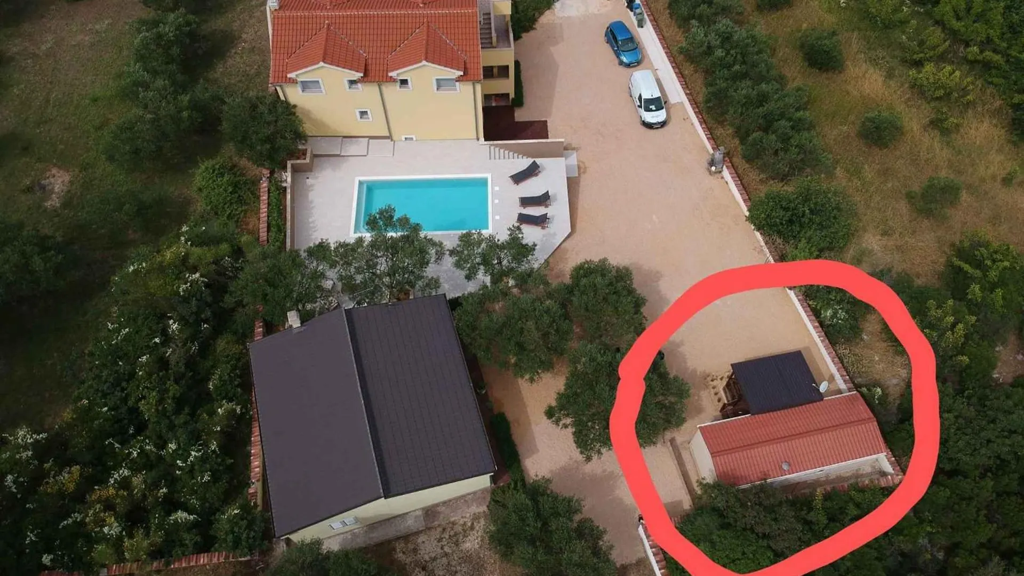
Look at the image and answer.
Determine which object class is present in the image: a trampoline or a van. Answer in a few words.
van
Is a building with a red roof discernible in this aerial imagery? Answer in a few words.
Yes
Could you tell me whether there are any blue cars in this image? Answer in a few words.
Yes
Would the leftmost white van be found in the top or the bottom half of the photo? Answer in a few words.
top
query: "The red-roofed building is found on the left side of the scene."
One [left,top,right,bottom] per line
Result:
[270,0,516,142]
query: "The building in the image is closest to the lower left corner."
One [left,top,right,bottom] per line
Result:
[248,294,499,542]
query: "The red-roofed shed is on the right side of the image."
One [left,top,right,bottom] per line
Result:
[689,392,883,498]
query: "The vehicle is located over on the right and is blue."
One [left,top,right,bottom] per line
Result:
[603,18,643,66]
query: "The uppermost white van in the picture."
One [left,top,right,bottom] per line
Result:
[628,63,669,127]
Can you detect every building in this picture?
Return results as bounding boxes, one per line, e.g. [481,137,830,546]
[248,294,499,542]
[689,392,883,498]
[270,0,516,142]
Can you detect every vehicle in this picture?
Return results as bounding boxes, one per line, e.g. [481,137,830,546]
[603,18,643,66]
[628,63,669,127]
